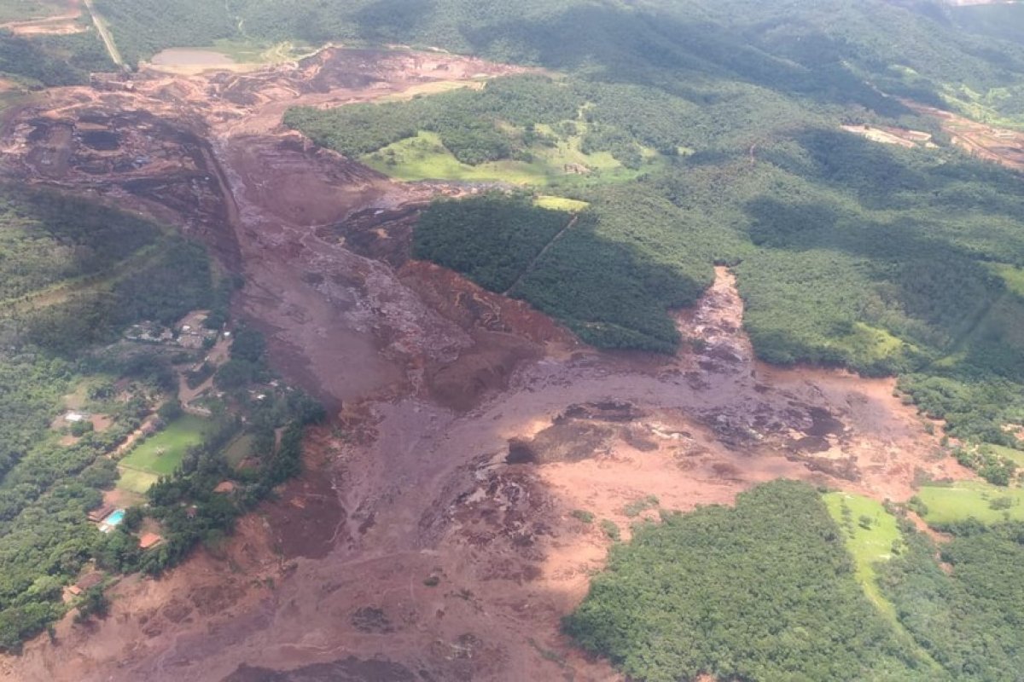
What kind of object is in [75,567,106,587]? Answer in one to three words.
house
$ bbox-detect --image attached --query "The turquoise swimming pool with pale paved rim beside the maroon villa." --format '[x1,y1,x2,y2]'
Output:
[100,509,128,526]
